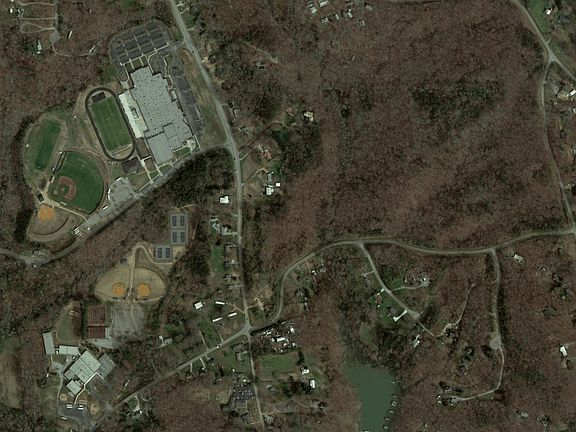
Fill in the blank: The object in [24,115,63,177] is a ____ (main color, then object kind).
green sports field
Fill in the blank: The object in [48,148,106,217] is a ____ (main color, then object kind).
green baseball field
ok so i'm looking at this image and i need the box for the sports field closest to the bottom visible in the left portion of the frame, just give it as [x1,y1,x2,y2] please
[56,302,81,341]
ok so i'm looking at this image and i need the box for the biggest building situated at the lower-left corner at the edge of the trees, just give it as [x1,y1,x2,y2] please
[59,345,115,395]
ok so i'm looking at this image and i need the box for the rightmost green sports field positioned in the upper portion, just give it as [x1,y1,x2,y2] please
[89,96,130,151]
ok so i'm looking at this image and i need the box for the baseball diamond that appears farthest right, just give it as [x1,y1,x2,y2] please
[133,267,165,300]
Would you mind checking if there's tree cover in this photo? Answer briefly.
Yes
